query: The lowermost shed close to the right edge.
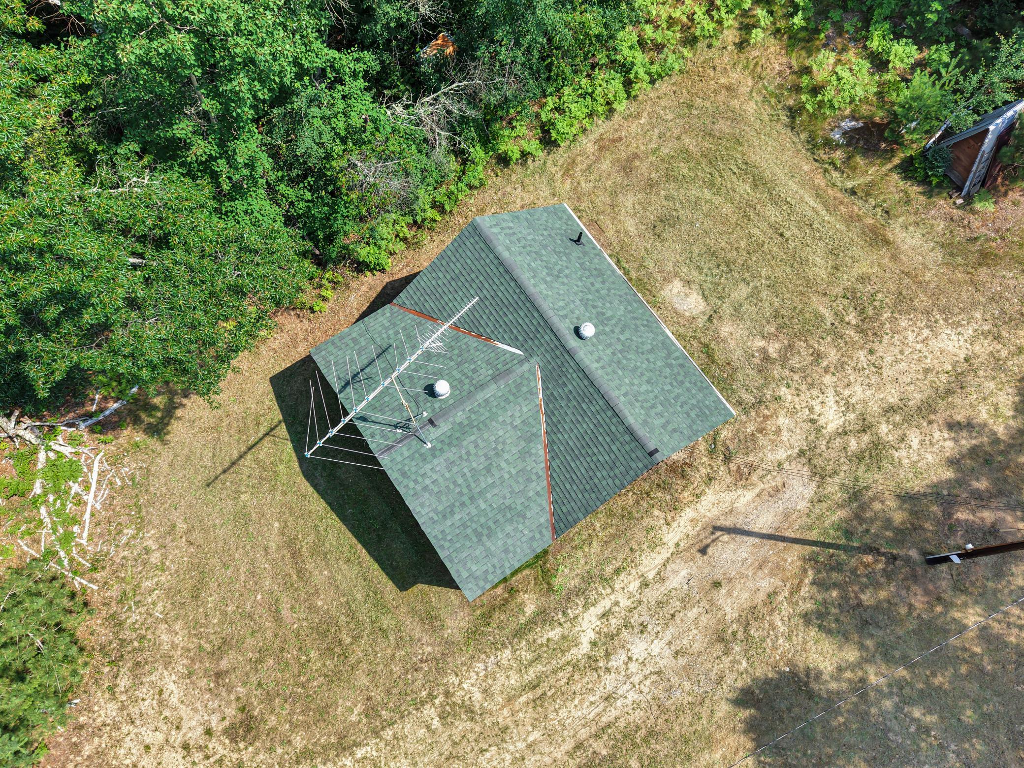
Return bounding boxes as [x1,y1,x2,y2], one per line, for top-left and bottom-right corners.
[919,103,1024,199]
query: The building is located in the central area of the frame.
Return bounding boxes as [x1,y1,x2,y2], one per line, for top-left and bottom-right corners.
[311,201,738,601]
